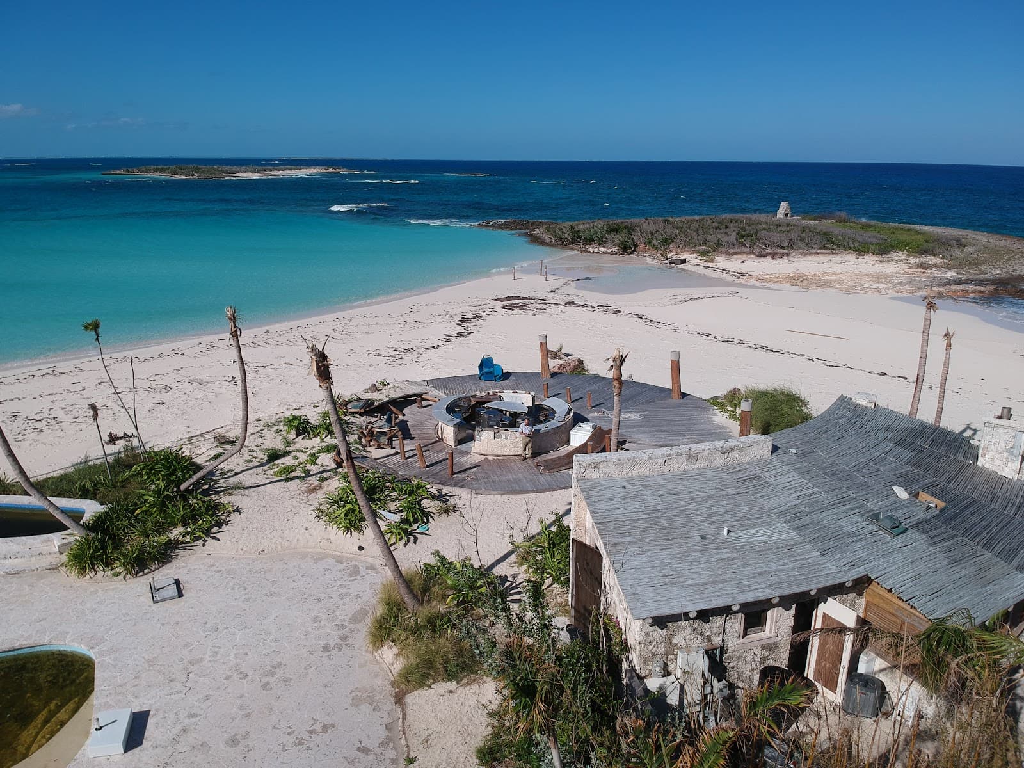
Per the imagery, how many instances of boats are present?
0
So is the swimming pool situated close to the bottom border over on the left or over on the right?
left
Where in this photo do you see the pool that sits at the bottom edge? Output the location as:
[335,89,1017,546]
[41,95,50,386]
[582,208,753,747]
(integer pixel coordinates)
[0,646,96,768]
